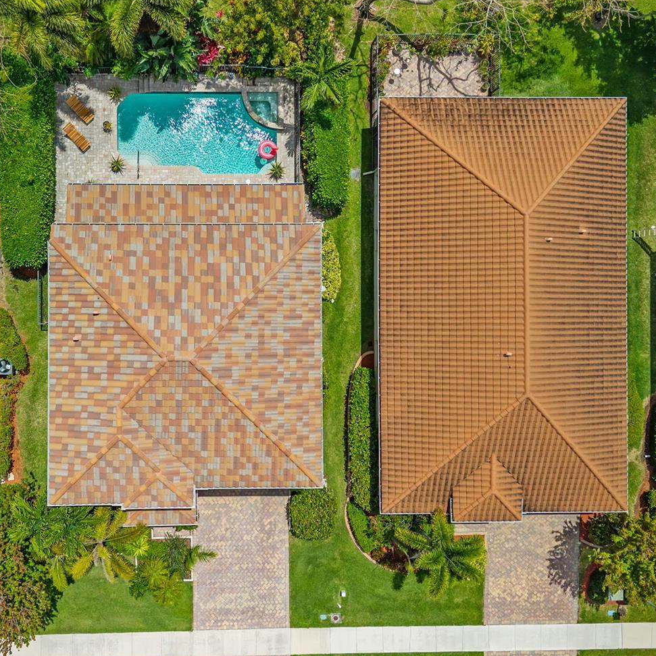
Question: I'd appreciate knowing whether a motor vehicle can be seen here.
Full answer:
No, I find no motor vehicle anywhere in the image.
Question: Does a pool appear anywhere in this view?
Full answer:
Yes, you can see a pool in this photo.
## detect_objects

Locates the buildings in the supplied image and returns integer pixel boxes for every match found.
[351,95,630,524]
[45,181,326,527]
